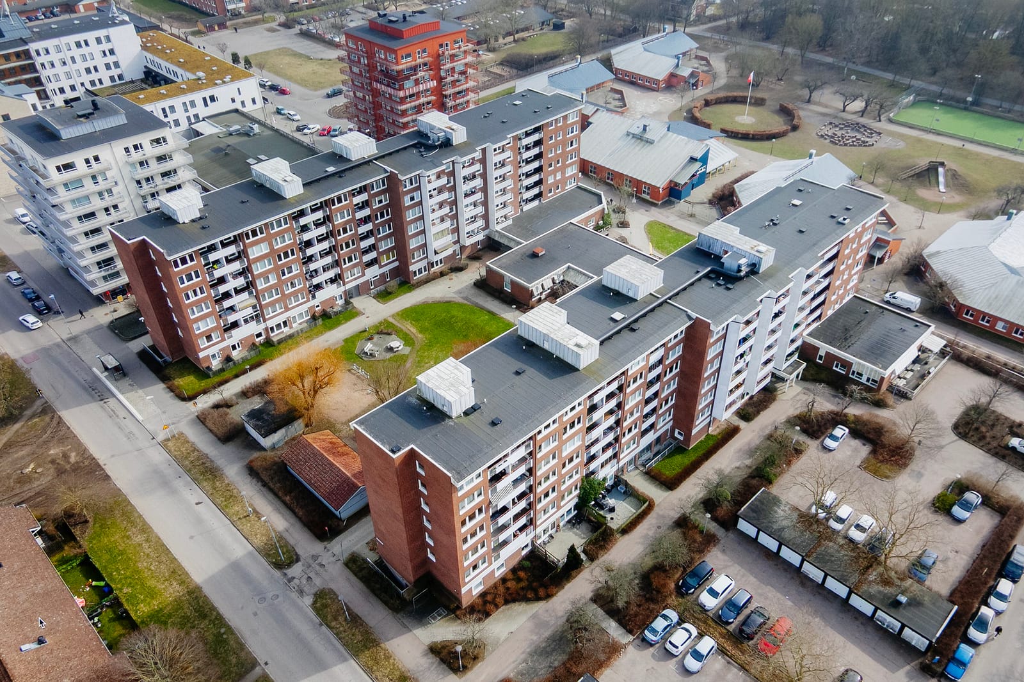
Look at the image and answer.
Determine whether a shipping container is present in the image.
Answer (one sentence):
No, no shipping container is visible in the scene.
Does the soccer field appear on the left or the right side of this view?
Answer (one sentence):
It is on the right.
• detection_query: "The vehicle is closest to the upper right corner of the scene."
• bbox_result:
[888,291,921,310]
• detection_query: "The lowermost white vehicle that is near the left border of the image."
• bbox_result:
[18,314,43,329]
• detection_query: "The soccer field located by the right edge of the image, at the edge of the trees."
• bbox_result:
[891,101,1024,150]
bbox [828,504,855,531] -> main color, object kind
white car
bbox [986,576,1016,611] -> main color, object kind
white car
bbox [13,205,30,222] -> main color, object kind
white vehicle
